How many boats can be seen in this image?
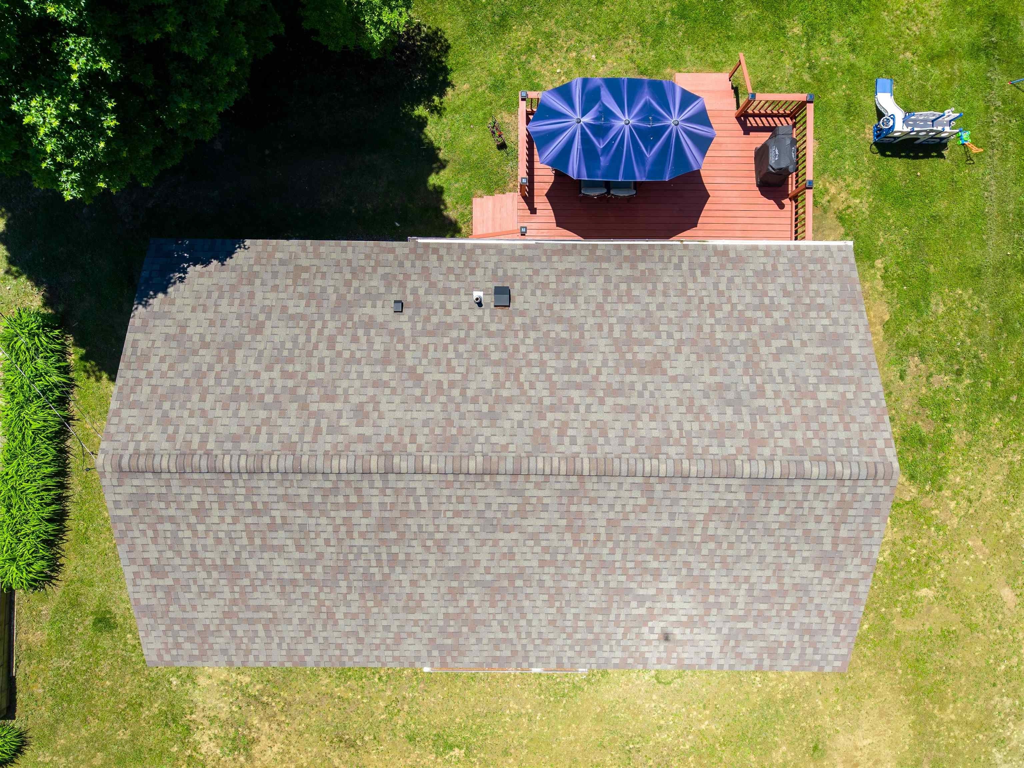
none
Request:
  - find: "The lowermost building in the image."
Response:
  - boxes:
[84,236,900,674]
